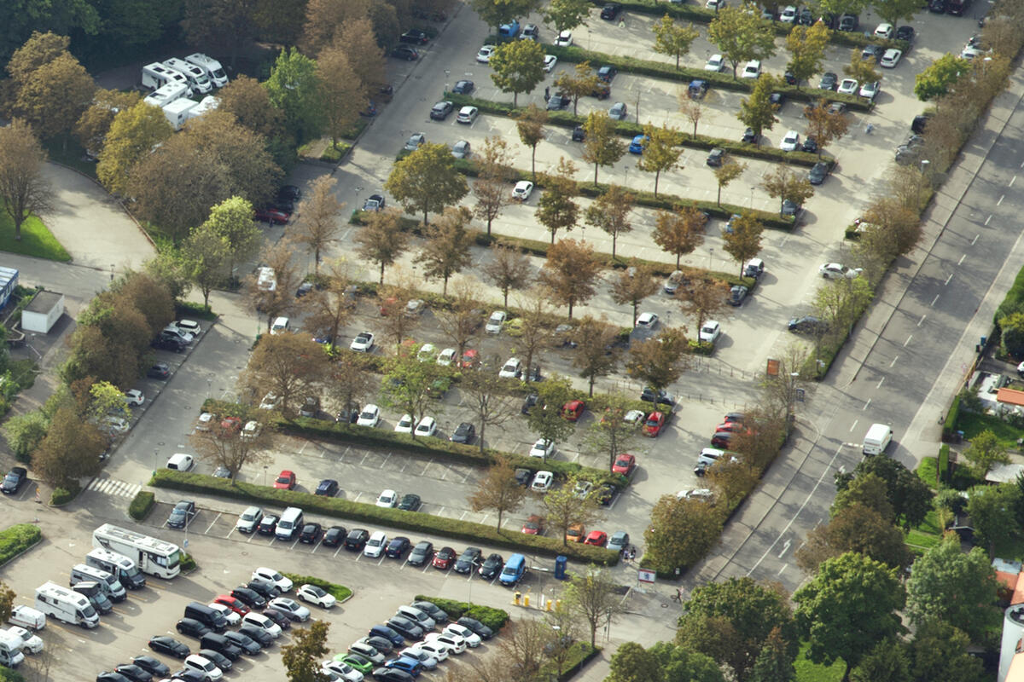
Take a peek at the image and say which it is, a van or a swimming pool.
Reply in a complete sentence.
The one in the frame is a van.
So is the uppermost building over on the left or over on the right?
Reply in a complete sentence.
It is on the left.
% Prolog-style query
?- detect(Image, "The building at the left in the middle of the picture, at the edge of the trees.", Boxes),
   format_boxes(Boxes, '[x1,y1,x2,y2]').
[19,287,64,333]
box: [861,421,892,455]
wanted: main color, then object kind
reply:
white van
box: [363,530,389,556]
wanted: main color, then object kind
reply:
white car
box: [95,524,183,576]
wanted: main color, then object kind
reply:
white vehicle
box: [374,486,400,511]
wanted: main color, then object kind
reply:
white car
